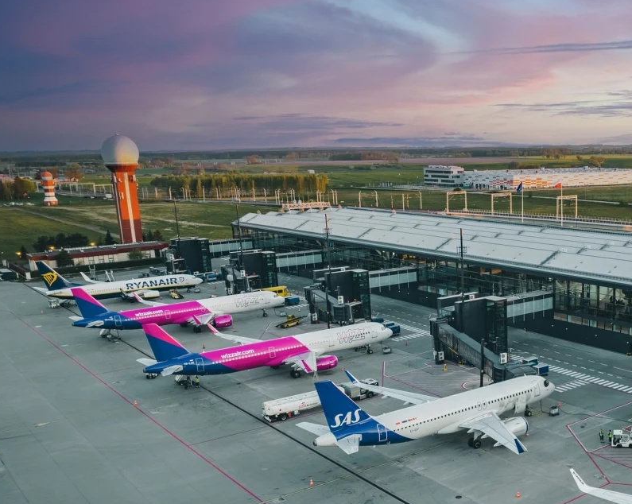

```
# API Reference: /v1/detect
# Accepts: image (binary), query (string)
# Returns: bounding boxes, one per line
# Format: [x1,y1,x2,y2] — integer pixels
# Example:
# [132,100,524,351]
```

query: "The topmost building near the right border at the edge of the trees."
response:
[464,167,632,190]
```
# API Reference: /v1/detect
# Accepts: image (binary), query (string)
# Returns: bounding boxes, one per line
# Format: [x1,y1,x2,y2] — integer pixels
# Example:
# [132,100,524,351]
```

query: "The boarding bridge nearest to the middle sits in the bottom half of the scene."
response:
[291,290,349,334]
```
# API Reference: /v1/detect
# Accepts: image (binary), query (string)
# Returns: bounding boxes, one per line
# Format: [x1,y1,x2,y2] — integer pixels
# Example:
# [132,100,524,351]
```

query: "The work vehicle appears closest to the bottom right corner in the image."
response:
[611,431,632,449]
